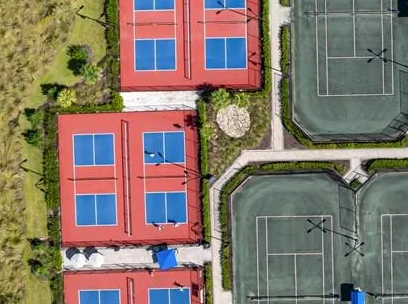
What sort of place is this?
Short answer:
sports ground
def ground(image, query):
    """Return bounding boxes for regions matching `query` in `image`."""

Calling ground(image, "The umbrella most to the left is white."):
[71,251,88,268]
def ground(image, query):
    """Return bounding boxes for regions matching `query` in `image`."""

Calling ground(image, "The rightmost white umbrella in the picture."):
[88,251,105,267]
